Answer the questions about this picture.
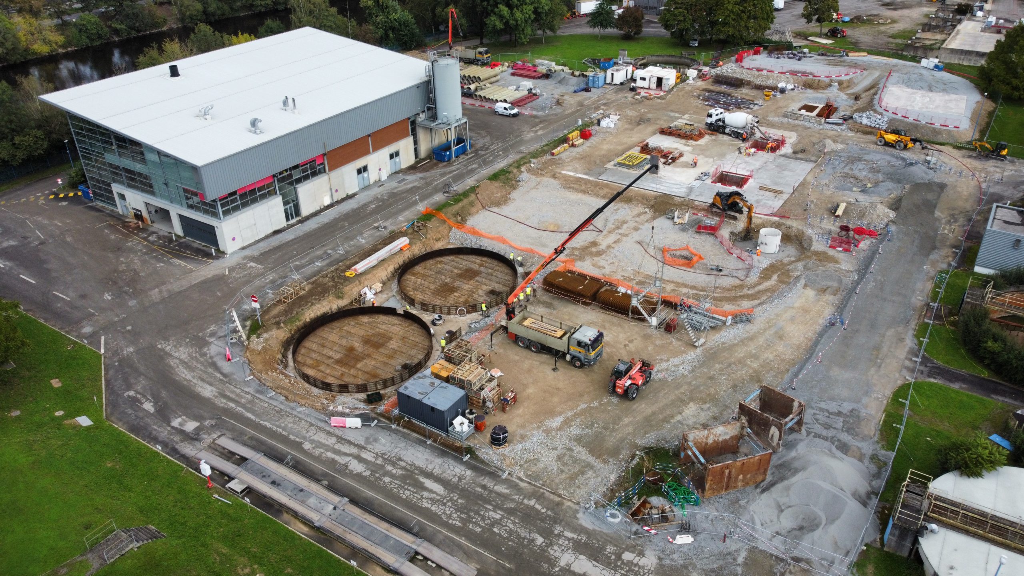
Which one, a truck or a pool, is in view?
truck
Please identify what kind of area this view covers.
industrial area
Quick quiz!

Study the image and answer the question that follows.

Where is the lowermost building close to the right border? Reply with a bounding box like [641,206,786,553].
[975,202,1024,281]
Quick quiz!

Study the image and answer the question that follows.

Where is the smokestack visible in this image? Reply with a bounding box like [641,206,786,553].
[166,61,181,78]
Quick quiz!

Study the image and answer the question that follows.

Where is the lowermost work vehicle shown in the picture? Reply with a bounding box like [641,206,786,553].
[603,354,655,402]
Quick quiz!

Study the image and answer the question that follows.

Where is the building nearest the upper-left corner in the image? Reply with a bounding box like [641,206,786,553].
[44,28,435,255]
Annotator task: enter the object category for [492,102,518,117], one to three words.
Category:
vehicle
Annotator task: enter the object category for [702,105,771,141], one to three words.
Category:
truck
